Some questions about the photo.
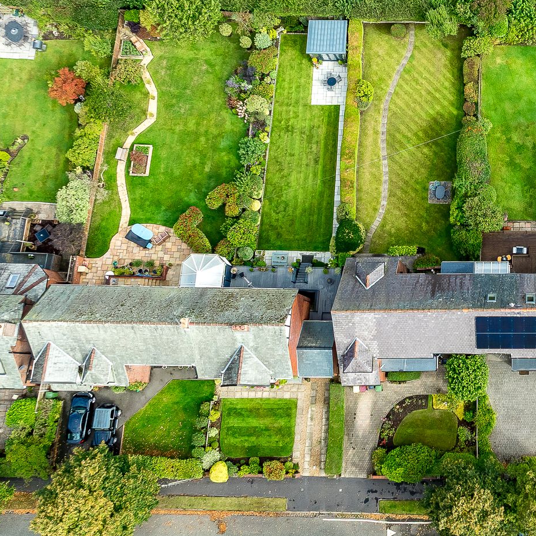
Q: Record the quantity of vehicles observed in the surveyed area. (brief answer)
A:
2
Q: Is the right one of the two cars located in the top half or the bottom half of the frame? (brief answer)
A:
bottom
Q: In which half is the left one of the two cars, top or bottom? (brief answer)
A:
bottom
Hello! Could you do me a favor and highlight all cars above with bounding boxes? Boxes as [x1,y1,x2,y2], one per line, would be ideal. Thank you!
[64,392,98,447]
[90,399,122,448]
